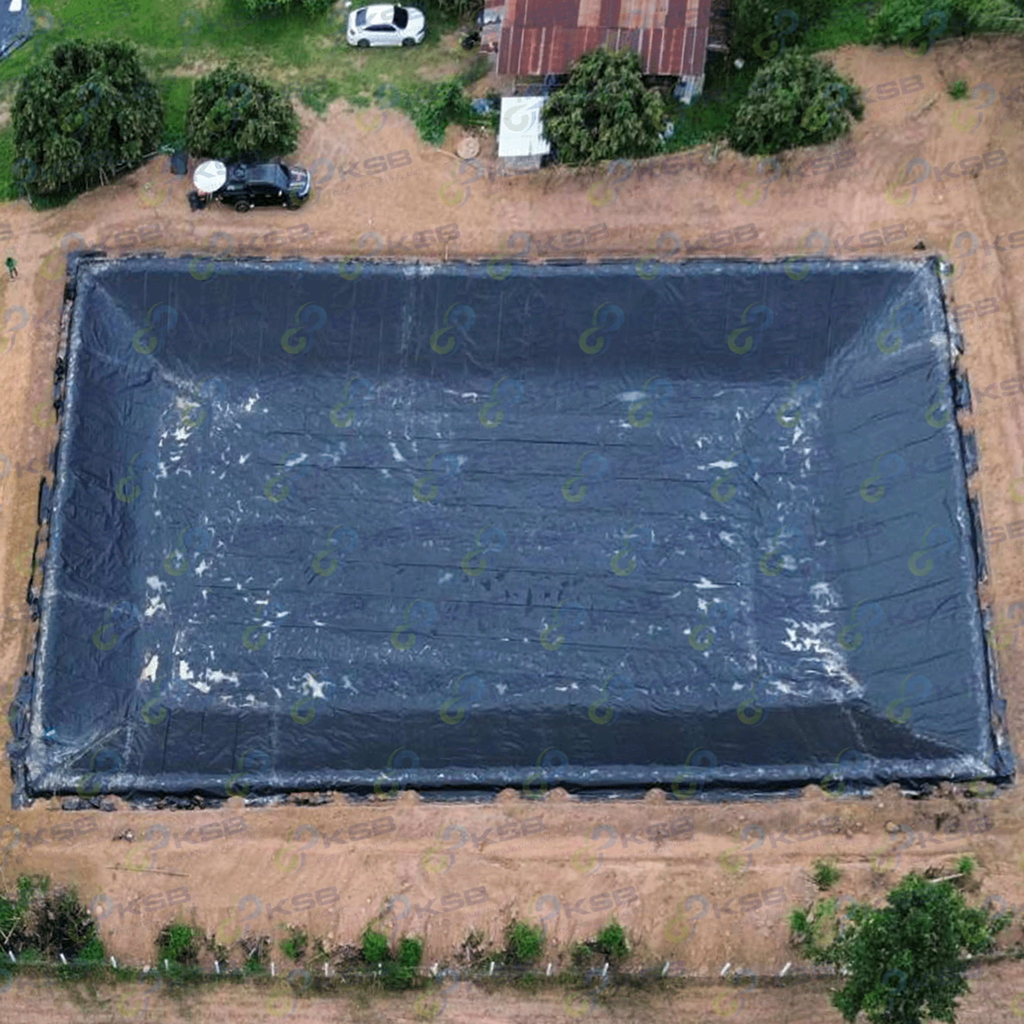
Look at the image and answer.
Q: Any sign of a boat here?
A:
No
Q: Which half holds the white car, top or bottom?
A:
top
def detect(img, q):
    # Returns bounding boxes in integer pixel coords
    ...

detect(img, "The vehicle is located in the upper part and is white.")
[346,0,426,47]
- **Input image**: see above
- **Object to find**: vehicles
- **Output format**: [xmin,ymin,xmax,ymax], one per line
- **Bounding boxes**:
[458,29,478,56]
[213,158,314,211]
[346,0,426,47]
